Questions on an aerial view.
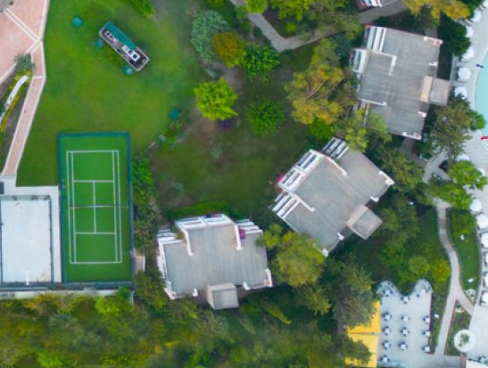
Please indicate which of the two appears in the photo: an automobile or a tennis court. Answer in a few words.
tennis court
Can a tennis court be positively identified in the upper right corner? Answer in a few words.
No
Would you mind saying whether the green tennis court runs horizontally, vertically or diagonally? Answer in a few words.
vertically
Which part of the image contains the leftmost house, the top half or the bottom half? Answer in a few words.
bottom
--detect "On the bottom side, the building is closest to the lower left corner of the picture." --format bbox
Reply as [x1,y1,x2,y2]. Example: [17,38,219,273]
[159,208,269,311]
